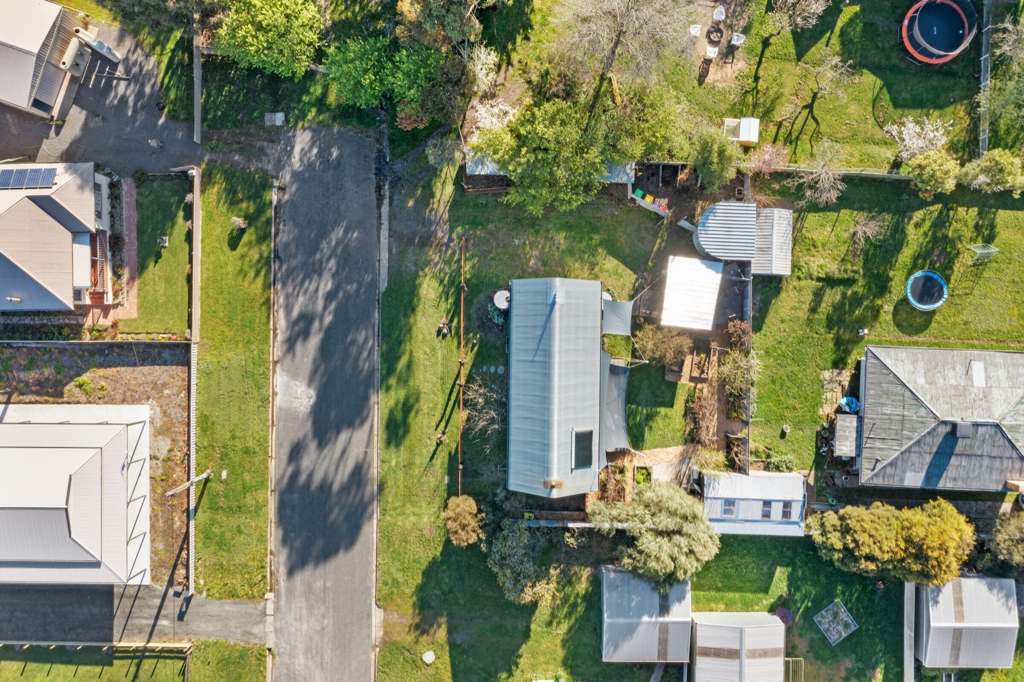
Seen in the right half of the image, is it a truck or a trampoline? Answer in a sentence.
Visible in the right half of the image is a trampoline.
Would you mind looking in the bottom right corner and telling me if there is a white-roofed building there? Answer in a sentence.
Yes, a white-roofed building shows up in the bottom right corner.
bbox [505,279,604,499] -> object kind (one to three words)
house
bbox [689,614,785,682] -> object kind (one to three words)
building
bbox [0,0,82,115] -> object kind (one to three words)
shed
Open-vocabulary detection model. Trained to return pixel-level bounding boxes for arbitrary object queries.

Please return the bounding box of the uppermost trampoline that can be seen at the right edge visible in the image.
[891,0,979,72]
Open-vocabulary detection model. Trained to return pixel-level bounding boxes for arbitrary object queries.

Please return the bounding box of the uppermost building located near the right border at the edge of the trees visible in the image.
[833,345,1024,495]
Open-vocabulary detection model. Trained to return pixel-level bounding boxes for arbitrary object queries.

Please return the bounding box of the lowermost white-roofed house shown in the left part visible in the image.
[0,405,149,584]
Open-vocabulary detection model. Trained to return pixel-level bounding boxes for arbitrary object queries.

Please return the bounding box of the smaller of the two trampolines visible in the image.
[900,269,948,312]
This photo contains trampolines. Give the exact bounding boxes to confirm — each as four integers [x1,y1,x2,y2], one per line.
[891,0,979,72]
[900,269,948,312]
